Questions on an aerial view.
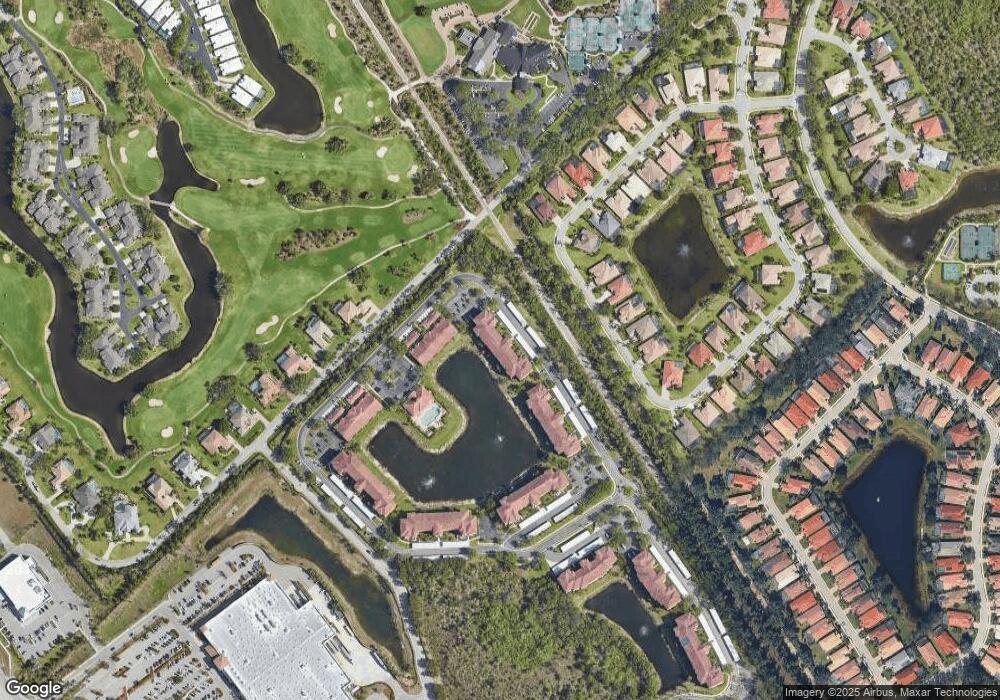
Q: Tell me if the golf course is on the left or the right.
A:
left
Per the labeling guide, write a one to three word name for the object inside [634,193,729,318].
pond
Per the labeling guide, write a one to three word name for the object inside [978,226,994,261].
tennis court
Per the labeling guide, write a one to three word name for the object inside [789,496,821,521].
house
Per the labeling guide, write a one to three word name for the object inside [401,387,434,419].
building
